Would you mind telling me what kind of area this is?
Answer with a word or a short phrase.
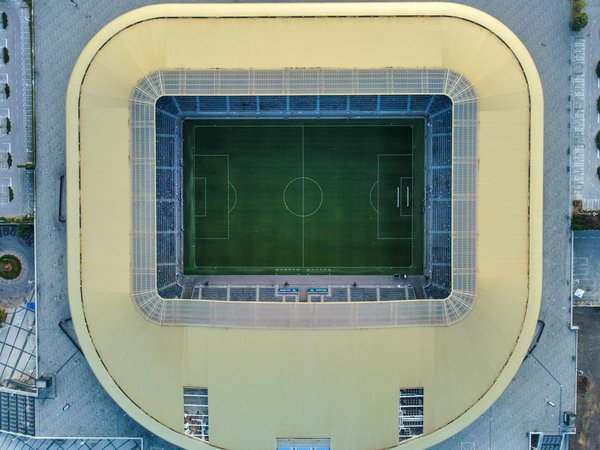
sports ground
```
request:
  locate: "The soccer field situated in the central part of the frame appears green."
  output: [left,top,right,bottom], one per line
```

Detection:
[183,119,424,275]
